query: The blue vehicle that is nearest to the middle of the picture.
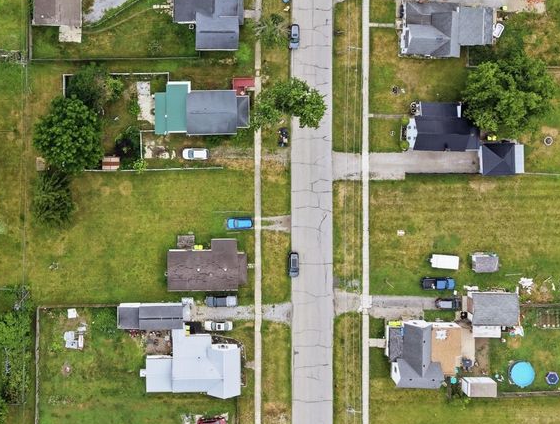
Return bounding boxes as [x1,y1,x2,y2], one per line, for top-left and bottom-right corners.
[226,217,253,231]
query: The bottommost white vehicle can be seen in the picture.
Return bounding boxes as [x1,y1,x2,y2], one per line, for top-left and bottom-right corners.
[205,319,233,333]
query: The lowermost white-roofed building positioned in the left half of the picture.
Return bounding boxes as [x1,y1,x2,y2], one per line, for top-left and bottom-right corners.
[140,328,241,400]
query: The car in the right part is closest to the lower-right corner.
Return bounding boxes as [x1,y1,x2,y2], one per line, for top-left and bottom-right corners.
[435,298,461,311]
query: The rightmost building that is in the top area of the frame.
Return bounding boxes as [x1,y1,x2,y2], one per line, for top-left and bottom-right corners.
[475,142,525,175]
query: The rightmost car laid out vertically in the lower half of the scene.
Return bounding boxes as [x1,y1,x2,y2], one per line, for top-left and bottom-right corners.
[288,251,301,279]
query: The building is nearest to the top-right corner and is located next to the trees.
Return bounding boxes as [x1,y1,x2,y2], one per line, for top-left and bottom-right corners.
[400,3,494,58]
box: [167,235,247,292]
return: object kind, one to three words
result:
house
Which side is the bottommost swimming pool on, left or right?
right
